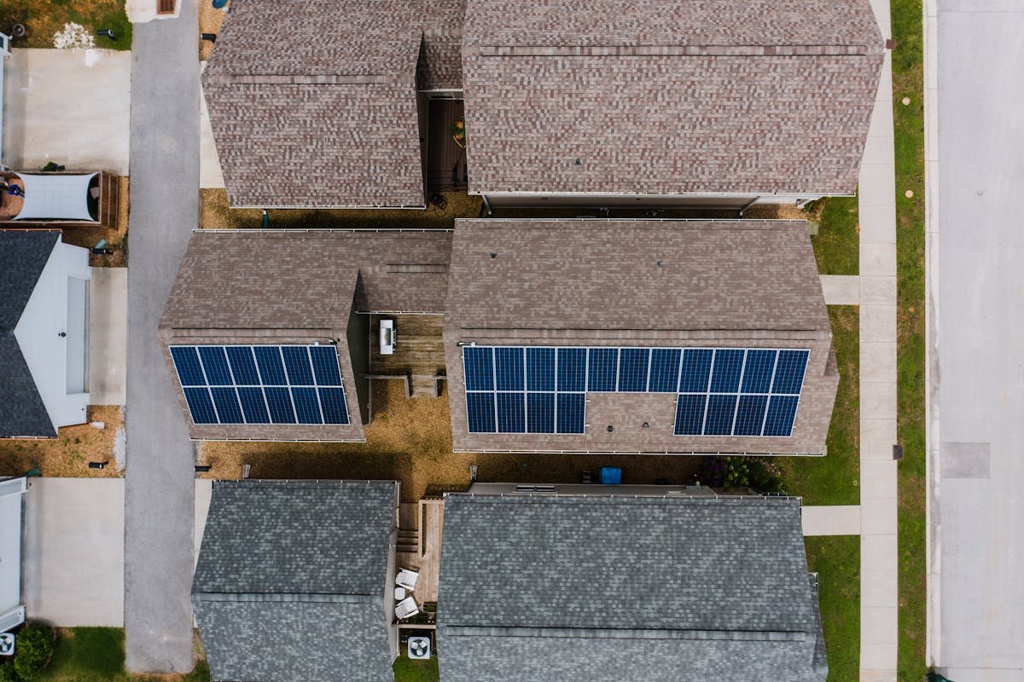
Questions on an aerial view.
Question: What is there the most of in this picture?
buildings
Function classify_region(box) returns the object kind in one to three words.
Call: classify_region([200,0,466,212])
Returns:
building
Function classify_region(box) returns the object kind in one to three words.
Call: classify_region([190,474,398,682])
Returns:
building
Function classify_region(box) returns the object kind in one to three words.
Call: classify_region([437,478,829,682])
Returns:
house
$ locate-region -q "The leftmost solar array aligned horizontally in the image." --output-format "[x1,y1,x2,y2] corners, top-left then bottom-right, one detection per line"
[167,346,349,424]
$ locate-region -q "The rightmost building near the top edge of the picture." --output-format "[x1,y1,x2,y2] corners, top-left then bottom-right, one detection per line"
[462,0,886,218]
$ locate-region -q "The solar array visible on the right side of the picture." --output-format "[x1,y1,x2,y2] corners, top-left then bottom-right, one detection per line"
[461,347,810,437]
